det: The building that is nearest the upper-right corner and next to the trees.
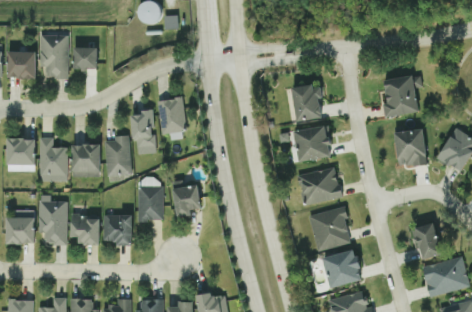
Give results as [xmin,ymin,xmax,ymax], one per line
[382,75,423,118]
